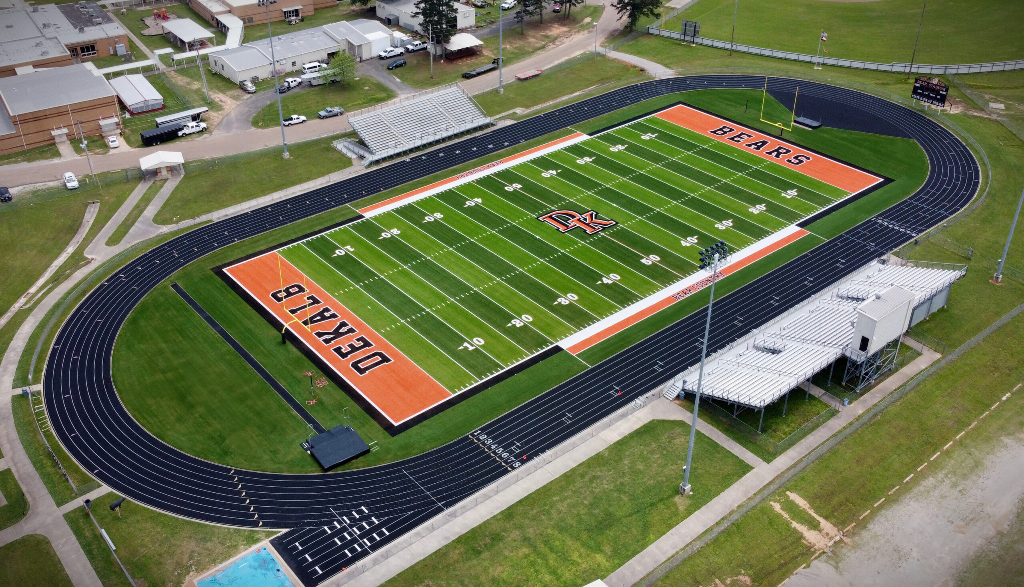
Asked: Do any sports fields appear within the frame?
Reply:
Yes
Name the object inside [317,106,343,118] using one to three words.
vehicle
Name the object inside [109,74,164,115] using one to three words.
shed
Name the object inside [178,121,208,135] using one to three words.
vehicle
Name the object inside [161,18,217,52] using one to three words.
building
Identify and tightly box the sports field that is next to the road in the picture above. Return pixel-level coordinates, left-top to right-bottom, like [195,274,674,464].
[211,101,896,437]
